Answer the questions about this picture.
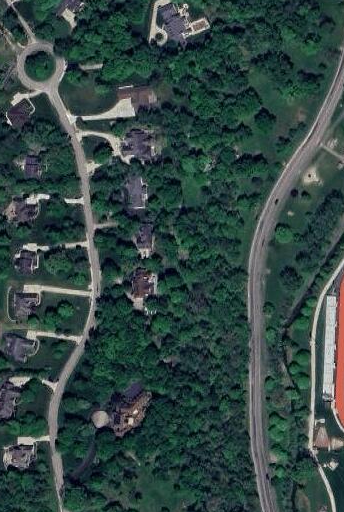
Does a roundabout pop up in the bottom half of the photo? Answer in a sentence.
No, looking in the bottom half of the photo, there is no roundabout.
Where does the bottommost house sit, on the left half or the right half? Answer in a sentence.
The bottommost house appears in the left half of the scene.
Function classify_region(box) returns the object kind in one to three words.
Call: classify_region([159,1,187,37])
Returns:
house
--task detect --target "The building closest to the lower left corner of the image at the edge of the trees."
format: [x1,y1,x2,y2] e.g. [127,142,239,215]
[8,448,33,468]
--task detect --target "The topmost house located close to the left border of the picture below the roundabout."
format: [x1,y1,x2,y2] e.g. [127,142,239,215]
[7,101,32,126]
